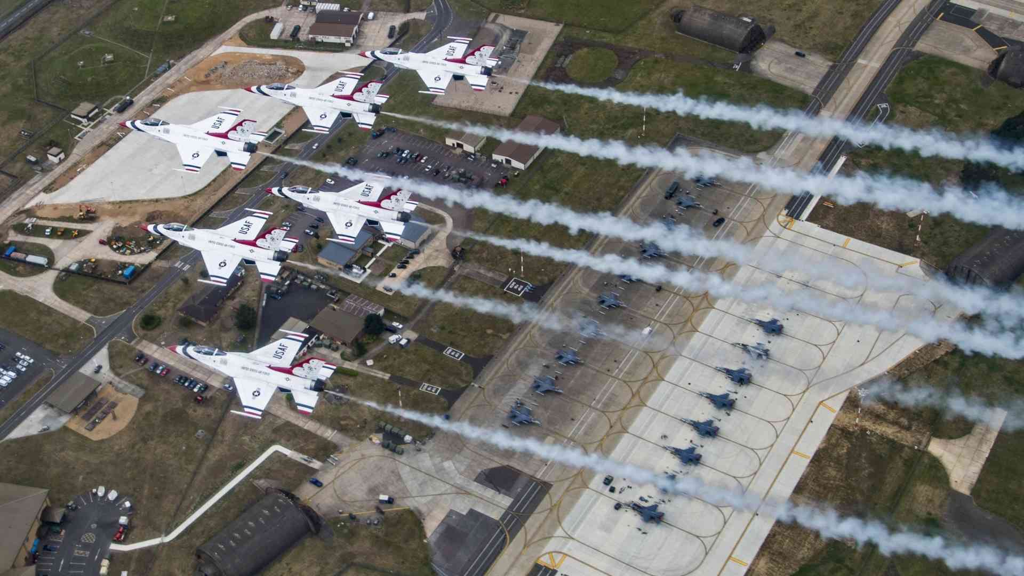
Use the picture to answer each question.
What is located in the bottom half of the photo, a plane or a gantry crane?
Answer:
plane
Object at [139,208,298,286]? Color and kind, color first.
white airplane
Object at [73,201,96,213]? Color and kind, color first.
red vehicle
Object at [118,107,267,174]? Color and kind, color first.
white airplane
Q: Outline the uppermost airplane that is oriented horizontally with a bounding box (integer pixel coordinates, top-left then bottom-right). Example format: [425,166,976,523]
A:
[358,37,498,96]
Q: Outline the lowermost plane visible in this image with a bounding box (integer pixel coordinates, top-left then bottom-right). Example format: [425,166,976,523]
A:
[626,503,666,526]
